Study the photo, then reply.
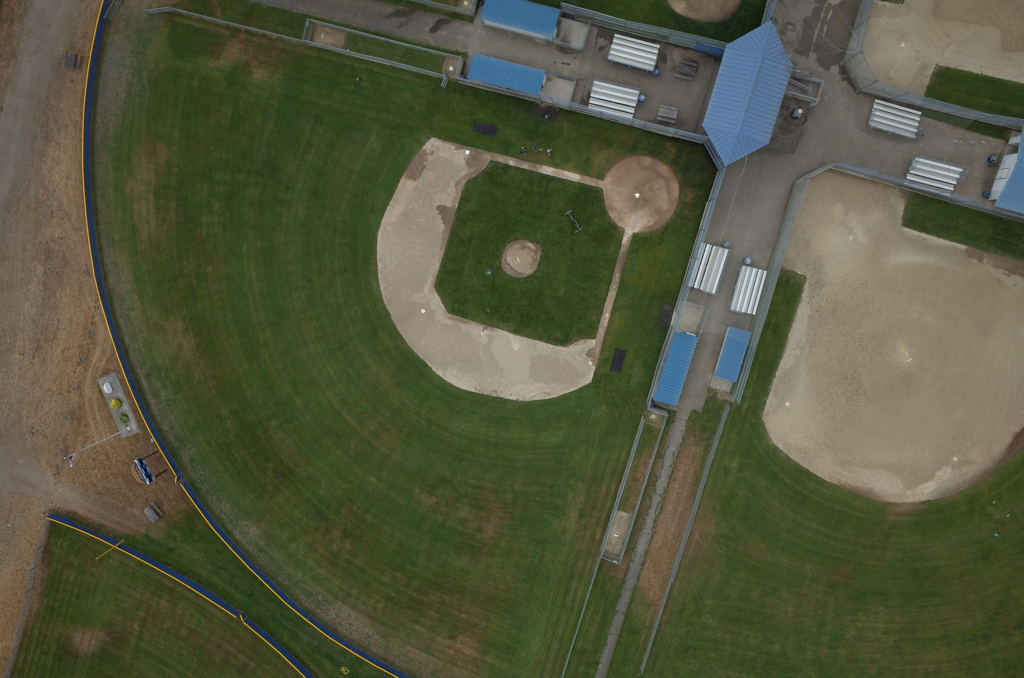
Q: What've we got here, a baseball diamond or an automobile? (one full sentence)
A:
This aerial view contains a baseball diamond.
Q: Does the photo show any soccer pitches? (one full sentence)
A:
No, the frame has no soccer pitch in it.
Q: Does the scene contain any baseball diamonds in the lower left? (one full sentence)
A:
Yes, the scene does show a baseball diamond in the lower left.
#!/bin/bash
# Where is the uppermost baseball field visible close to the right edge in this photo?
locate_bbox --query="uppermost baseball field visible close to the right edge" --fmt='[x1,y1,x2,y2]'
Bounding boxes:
[843,0,1024,131]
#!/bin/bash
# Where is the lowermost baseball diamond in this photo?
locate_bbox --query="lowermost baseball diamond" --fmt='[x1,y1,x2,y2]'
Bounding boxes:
[10,515,306,678]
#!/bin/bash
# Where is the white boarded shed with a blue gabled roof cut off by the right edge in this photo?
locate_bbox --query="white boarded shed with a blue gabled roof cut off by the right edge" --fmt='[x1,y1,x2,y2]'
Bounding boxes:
[988,125,1024,213]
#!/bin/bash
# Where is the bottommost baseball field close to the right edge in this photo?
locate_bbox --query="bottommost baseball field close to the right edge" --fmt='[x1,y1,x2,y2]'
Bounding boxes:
[638,165,1024,678]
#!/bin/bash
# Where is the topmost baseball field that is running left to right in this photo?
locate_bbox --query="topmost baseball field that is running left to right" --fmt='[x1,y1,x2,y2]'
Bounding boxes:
[550,0,767,49]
